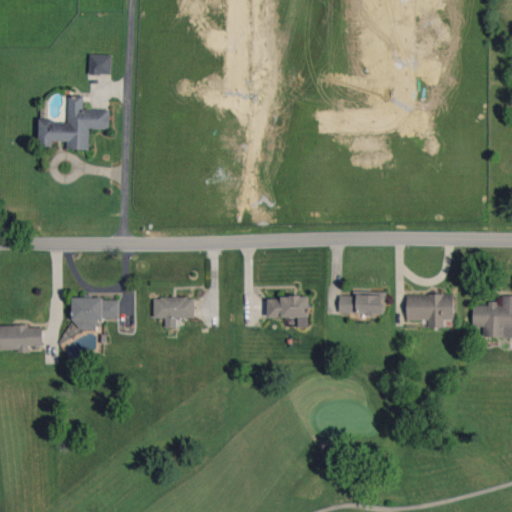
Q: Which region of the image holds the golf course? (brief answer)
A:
bottom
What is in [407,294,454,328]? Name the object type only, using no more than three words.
house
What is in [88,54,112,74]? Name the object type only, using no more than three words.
building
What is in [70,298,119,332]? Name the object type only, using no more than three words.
house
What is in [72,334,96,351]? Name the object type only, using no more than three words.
swimming pool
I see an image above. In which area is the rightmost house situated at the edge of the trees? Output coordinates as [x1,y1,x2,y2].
[474,295,512,338]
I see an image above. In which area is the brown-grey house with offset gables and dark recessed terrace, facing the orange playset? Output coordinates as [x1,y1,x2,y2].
[267,296,309,328]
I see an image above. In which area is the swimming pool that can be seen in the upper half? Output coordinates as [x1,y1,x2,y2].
[49,92,62,118]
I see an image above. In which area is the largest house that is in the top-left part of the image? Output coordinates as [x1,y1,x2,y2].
[38,98,108,150]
